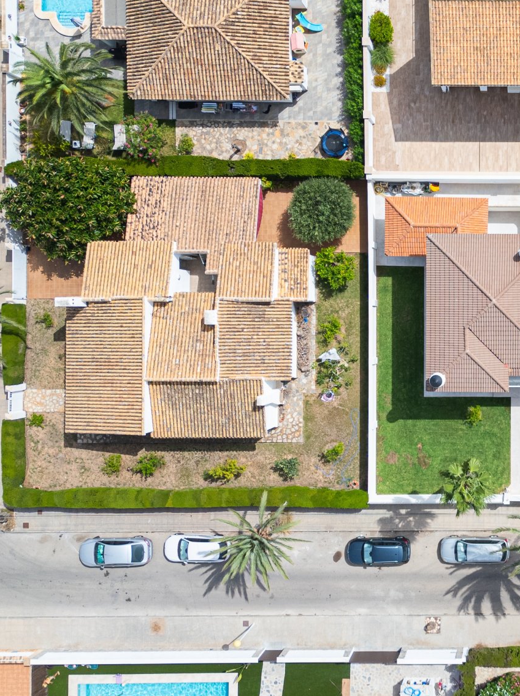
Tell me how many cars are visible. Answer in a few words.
4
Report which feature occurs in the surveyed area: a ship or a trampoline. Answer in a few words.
trampoline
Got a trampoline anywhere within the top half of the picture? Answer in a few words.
Yes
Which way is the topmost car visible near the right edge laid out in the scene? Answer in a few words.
from side to side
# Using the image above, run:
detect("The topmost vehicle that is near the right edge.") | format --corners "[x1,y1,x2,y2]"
[439,533,510,567]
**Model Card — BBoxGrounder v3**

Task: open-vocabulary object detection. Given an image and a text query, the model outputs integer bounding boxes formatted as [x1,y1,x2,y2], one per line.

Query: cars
[346,533,411,569]
[81,534,154,571]
[439,533,510,567]
[166,530,234,566]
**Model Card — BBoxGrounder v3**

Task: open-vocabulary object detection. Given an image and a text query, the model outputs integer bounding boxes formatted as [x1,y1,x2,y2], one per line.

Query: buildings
[124,0,316,117]
[431,0,520,112]
[423,231,520,397]
[55,176,329,438]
